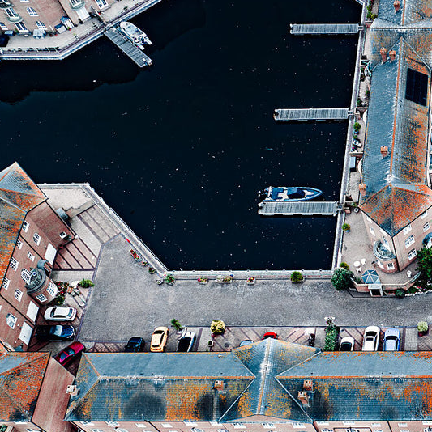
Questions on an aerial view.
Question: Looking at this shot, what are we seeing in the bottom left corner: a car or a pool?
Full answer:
You can see a car in the bottom left corner.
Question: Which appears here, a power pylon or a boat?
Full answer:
It is a boat that can be seen here.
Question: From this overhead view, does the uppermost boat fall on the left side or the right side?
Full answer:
You can find the uppermost boat on the left side of the picture.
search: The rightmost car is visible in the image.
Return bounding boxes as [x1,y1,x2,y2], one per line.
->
[383,327,400,351]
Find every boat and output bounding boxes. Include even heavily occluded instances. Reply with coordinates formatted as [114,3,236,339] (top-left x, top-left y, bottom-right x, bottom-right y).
[121,24,153,51]
[263,189,322,203]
